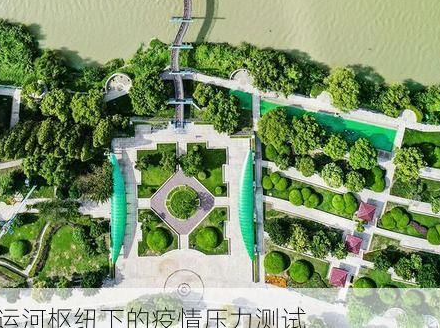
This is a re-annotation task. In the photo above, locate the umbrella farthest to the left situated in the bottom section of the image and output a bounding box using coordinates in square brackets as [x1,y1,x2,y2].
[386,306,403,324]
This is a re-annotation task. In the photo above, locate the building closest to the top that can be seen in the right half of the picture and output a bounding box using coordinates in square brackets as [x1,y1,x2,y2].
[355,198,376,222]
